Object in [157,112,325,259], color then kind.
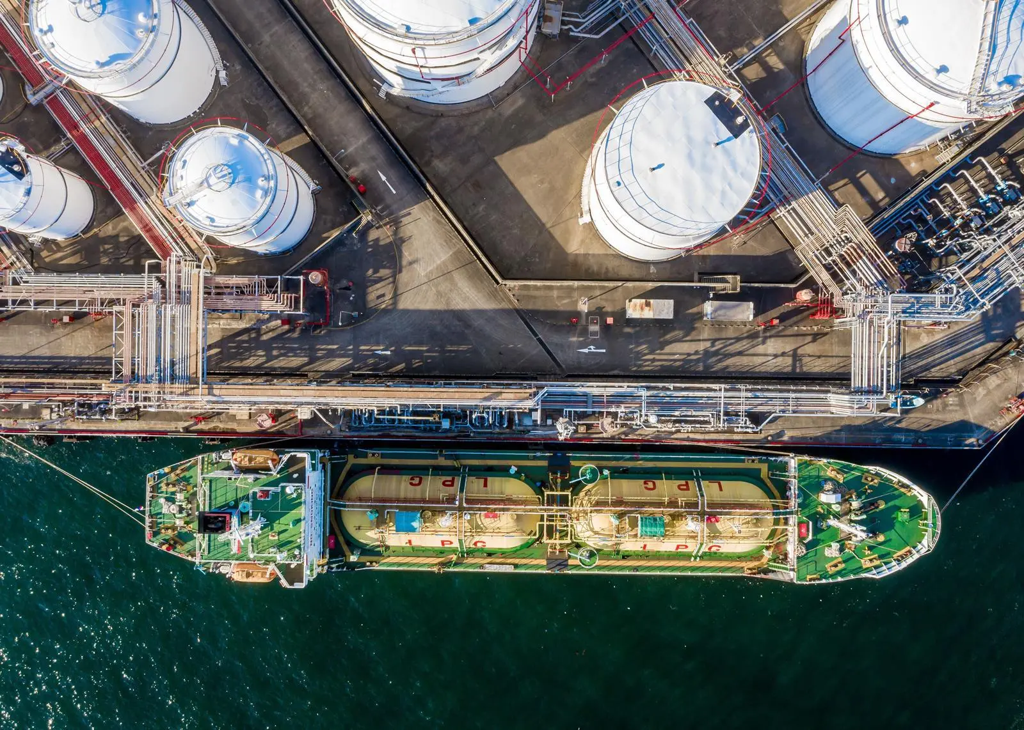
white storage tank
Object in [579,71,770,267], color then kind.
white storage tank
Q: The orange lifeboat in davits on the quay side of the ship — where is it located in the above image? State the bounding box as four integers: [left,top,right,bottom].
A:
[230,449,282,469]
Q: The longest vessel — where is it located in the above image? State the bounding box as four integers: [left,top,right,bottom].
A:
[137,449,946,589]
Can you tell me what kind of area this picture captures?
industrial area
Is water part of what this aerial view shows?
Yes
